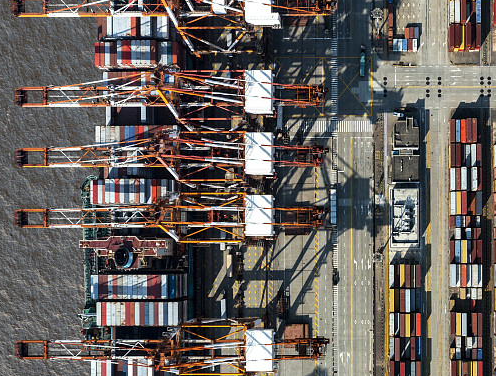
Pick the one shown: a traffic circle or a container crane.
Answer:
container crane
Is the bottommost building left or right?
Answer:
right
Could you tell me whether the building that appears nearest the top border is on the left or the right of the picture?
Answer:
right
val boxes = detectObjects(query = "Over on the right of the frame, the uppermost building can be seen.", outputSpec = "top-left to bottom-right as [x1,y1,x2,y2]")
[393,115,419,151]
